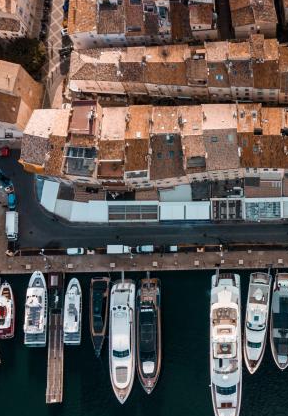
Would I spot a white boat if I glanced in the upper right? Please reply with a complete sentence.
No, I can find no white boat in the upper right.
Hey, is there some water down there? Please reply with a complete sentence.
Yes, some water is visible.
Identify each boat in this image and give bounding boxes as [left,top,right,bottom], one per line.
[0,281,19,339]
[208,268,242,416]
[22,270,51,347]
[63,277,85,347]
[108,270,139,411]
[269,267,288,377]
[90,277,110,356]
[244,265,271,382]
[133,270,164,402]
